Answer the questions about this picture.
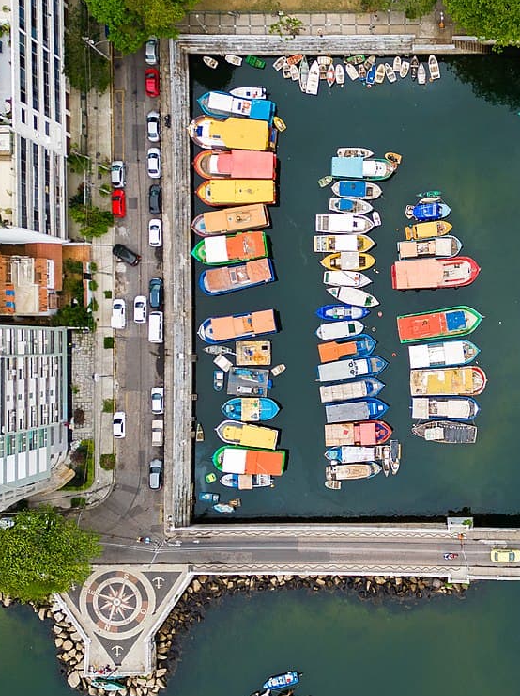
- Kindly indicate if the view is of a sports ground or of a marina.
marina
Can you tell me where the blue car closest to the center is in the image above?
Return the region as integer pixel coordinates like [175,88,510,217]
[149,277,164,309]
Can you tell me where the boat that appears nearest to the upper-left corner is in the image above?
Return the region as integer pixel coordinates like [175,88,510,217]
[203,58,220,71]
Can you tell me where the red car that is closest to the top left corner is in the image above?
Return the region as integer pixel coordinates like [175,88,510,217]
[143,69,160,98]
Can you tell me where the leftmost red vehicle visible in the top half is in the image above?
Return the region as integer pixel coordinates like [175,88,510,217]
[110,189,127,218]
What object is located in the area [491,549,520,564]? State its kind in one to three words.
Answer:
car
